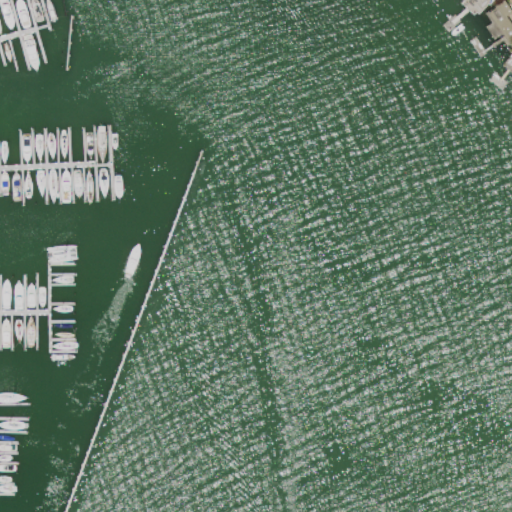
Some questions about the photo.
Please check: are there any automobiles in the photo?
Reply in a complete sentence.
No, no automobile is visible in the scene.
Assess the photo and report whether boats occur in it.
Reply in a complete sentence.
Yes, a boat is visible in the scene.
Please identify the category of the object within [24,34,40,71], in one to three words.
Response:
boat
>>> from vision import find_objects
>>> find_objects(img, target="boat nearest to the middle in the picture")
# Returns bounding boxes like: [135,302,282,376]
[124,244,141,280]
